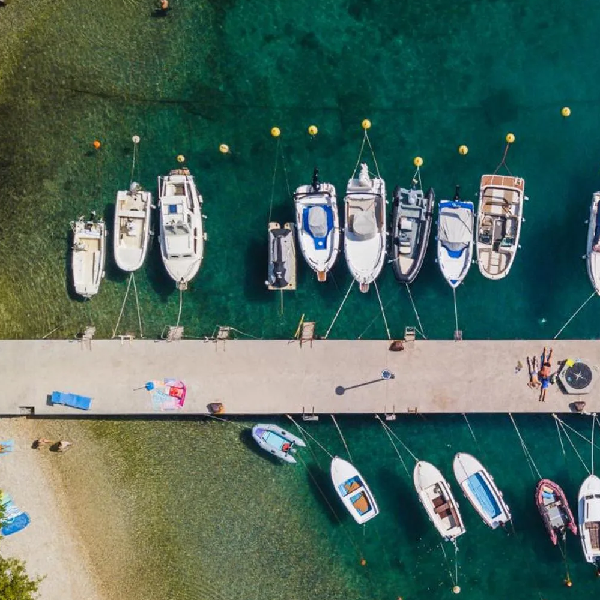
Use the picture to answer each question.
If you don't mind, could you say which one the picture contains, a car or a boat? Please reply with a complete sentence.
Looking from above, you can make out a boat.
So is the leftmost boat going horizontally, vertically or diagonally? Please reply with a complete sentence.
The leftmost boat is laid out vertically.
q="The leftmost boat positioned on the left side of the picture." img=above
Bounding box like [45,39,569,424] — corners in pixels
[70,210,108,298]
